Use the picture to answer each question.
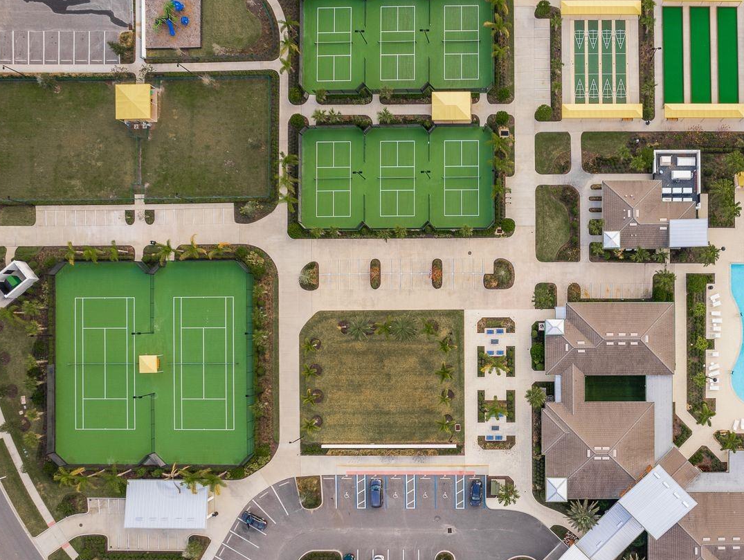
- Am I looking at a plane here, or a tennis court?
tennis court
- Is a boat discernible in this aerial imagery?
No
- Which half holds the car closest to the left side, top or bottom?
bottom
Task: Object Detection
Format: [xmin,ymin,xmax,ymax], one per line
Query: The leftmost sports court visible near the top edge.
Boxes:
[303,0,366,90]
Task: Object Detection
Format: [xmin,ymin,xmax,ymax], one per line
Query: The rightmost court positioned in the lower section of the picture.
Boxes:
[150,261,253,465]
